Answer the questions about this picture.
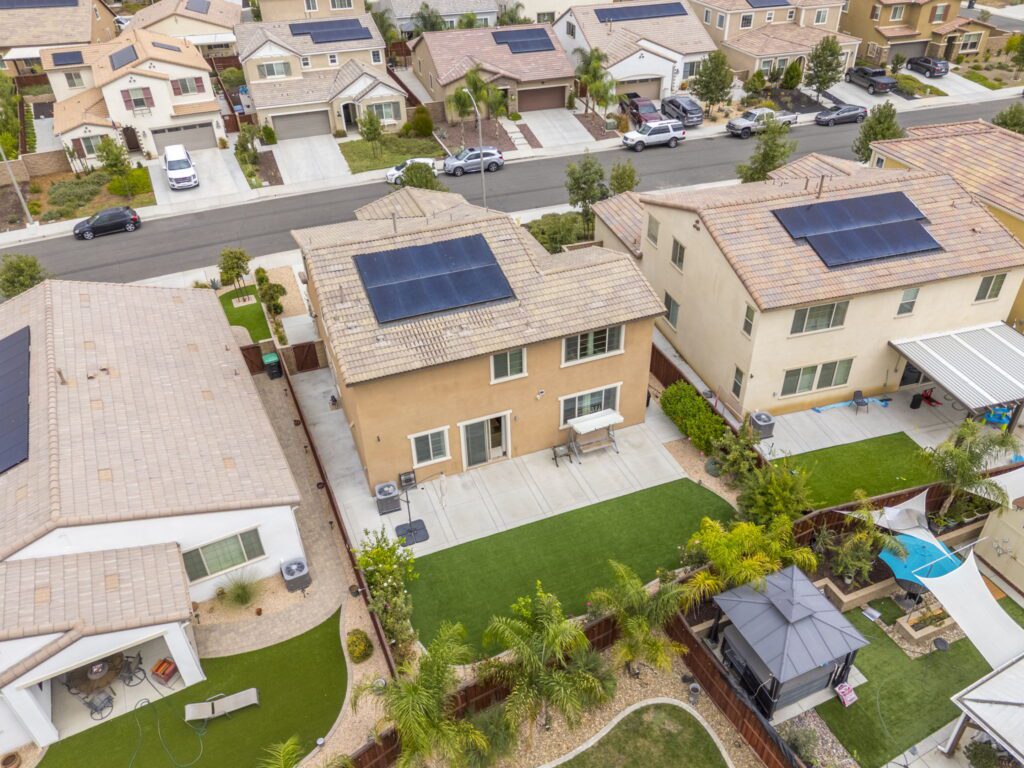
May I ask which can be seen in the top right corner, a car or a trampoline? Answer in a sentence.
It is a car that can be seen in the top right corner.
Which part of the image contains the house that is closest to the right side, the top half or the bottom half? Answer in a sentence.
Seen from above, the house that is closest to the right side lies in the bottom half of the view.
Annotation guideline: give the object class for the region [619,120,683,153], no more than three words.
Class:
car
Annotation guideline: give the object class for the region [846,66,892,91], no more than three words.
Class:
truck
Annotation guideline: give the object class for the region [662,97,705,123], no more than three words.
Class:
car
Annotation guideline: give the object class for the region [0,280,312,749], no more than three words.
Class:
house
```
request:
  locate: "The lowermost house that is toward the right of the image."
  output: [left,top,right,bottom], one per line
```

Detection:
[980,493,1024,602]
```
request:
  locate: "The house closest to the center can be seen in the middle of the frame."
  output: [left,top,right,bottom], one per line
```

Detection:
[289,188,671,496]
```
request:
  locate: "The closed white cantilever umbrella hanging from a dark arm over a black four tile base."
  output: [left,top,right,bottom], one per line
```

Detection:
[390,474,448,550]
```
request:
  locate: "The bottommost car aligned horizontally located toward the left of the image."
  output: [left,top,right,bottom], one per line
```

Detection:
[77,206,143,240]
